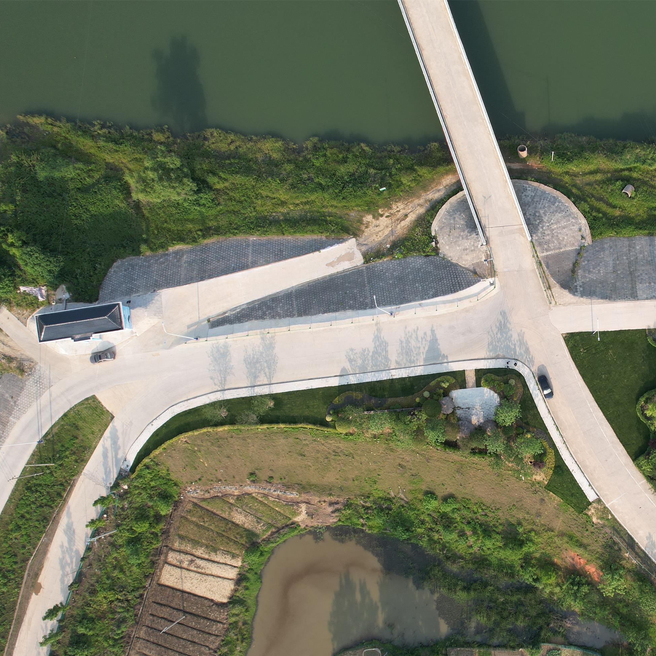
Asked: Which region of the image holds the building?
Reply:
left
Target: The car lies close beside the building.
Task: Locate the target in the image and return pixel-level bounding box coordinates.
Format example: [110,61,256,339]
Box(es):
[87,350,115,362]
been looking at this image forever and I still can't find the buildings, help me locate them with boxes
[35,302,134,344]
